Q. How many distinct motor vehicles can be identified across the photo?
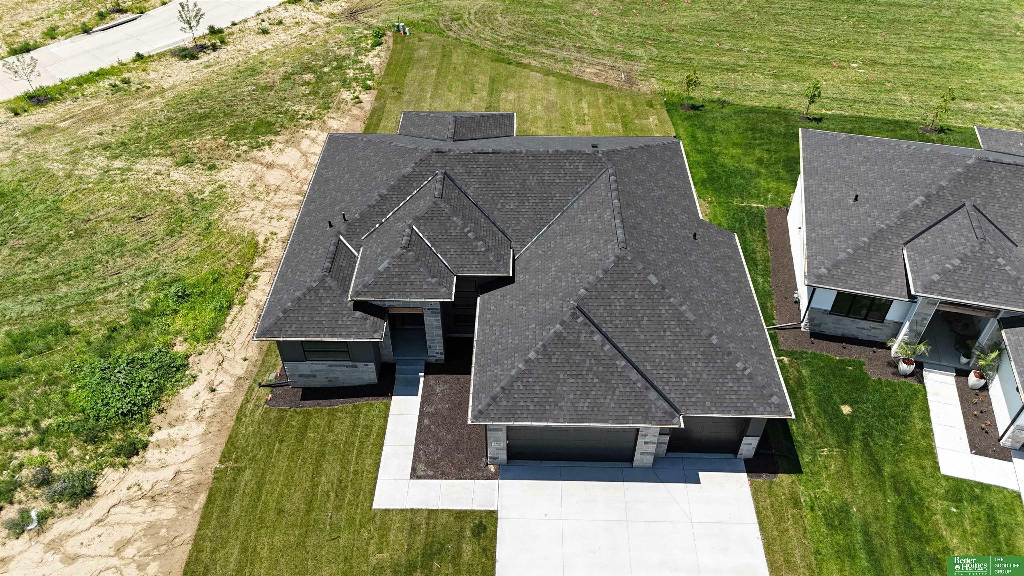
0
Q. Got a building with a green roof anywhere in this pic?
No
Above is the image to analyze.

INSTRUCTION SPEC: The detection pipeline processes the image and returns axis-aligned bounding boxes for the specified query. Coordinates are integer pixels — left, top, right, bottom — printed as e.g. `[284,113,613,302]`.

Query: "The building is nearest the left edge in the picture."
[253,111,794,468]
